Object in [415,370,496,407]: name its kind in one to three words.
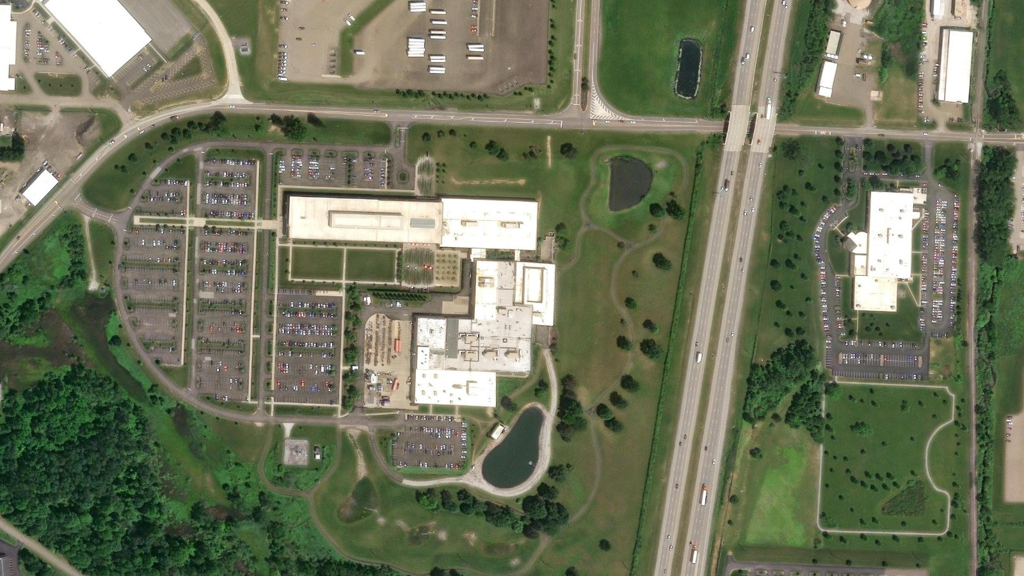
building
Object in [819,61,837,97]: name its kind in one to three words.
building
